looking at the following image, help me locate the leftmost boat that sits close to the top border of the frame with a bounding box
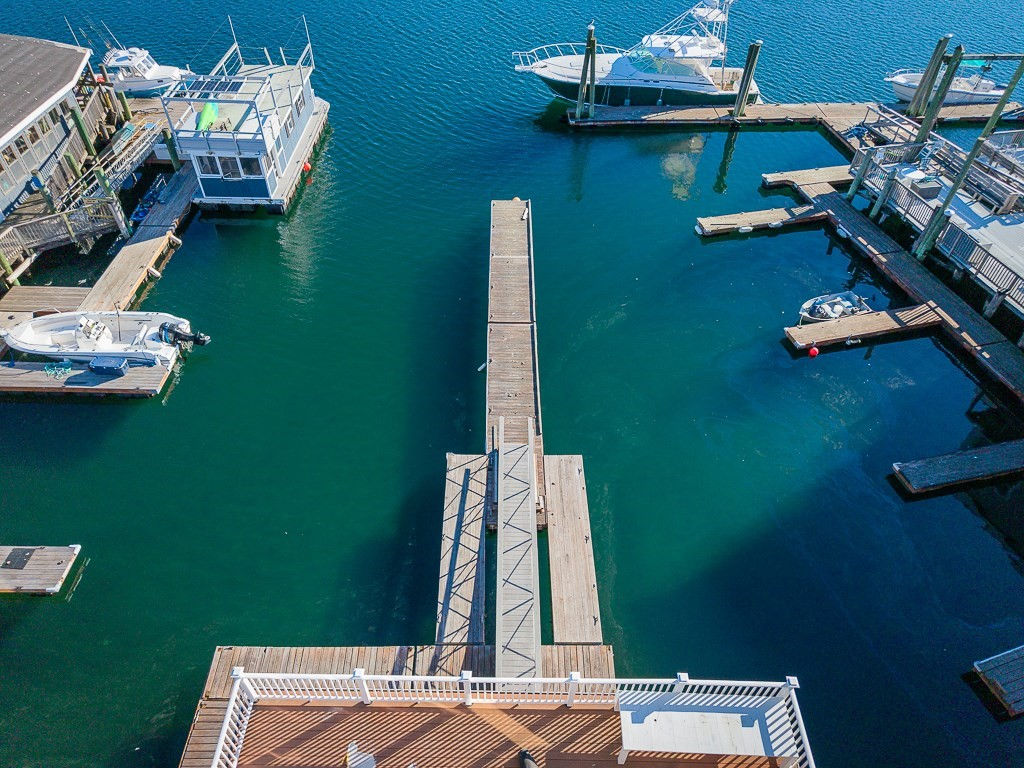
[65,20,199,111]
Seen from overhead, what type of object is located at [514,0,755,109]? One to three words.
boat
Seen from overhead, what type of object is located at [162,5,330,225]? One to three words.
boat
